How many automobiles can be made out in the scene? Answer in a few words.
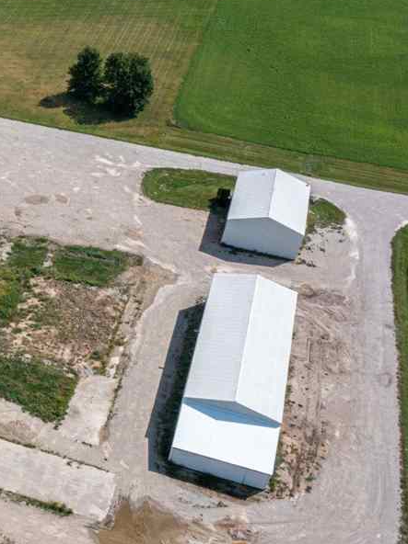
0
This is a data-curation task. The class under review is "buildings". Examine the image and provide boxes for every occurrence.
[221,168,310,260]
[168,273,298,490]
